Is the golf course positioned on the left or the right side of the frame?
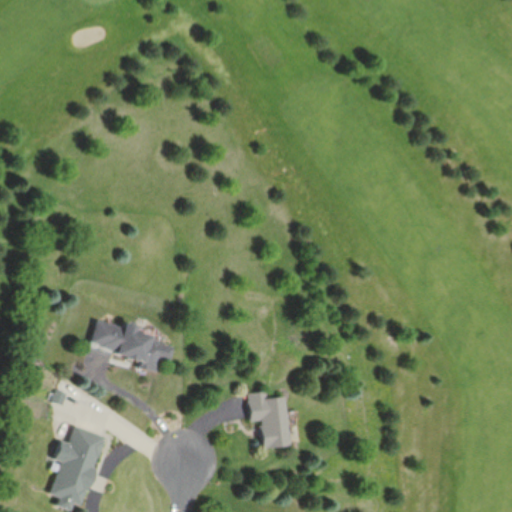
right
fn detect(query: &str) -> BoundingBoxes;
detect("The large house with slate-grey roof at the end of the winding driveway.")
[92,318,175,372]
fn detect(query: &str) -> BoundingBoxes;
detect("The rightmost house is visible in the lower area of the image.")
[247,393,292,450]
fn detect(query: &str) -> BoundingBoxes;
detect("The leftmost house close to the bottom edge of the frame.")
[50,428,104,510]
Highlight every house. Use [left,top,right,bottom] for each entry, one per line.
[50,428,104,510]
[247,393,292,450]
[92,318,175,372]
